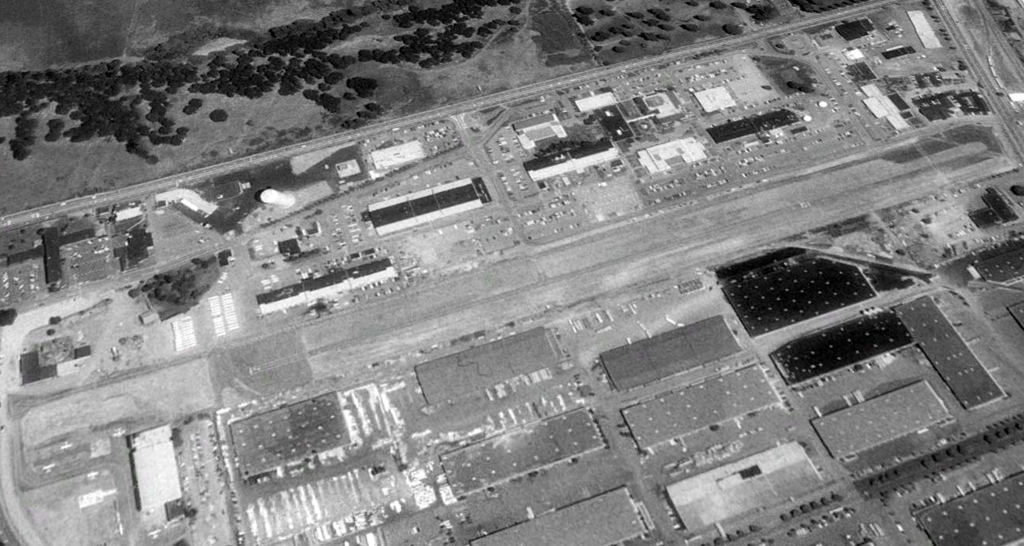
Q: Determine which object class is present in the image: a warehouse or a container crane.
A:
warehouse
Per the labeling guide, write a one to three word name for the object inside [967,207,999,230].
building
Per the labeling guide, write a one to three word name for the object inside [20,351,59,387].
house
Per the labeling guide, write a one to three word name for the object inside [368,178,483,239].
hangar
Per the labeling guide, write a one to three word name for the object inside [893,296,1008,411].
warehouse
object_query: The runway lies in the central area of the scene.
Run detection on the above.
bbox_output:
[249,187,834,373]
